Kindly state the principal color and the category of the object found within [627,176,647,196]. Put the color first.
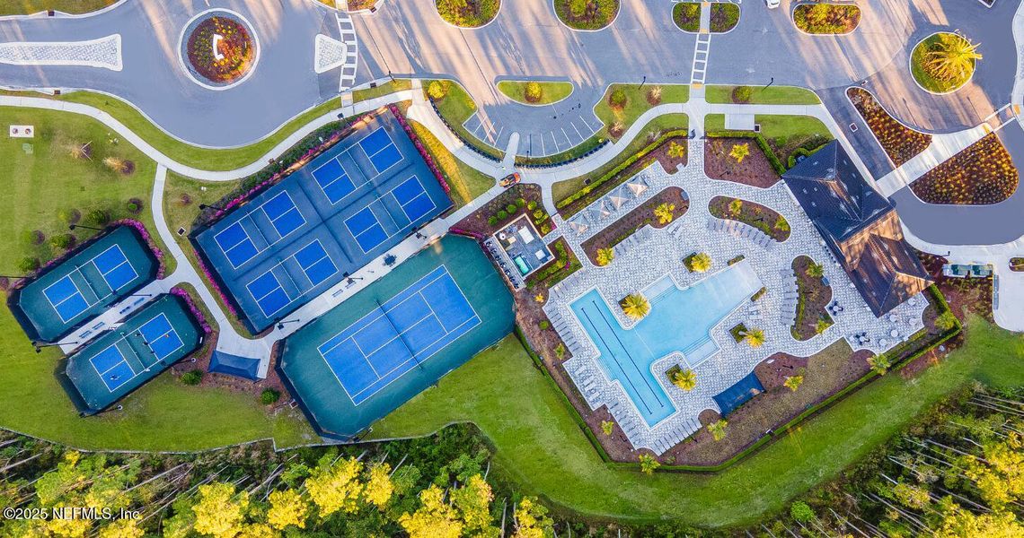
white umbrella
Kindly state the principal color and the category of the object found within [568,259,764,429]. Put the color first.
blue swimming pool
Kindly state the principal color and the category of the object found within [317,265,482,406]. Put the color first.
blue tennis court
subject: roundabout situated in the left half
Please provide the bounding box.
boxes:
[178,7,260,89]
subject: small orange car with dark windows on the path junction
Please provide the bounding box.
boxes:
[498,170,522,189]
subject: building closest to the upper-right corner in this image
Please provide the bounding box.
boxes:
[776,138,933,319]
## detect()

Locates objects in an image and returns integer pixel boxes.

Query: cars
[768,0,781,8]
[498,170,522,189]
